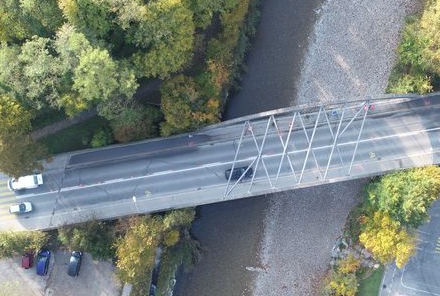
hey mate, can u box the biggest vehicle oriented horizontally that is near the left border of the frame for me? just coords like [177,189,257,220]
[11,175,43,190]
